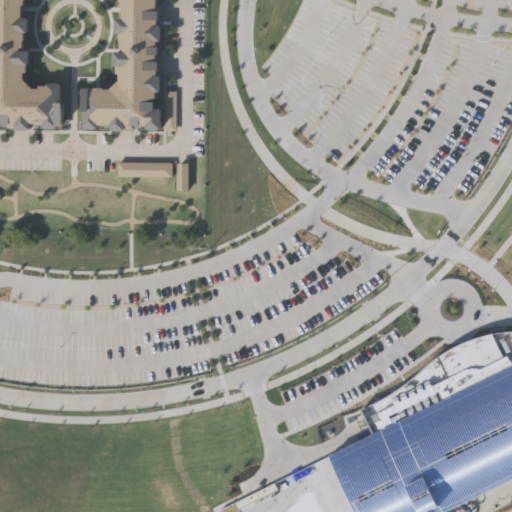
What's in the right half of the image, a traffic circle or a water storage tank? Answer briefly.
traffic circle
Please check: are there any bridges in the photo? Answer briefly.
No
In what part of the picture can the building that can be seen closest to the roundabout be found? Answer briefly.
bottom right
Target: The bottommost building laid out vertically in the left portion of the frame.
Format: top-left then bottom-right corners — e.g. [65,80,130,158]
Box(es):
[176,164,188,191]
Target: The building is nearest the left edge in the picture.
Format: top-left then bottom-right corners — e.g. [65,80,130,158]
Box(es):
[0,0,60,128]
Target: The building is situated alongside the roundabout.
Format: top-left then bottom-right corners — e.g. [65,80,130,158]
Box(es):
[330,333,512,512]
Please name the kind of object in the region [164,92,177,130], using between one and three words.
building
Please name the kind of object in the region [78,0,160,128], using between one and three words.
building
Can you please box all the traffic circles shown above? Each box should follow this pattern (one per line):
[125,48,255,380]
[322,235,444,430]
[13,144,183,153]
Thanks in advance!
[422,278,482,340]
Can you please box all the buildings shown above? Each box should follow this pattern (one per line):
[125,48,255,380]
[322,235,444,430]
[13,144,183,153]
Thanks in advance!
[78,0,160,128]
[117,163,172,177]
[0,0,60,128]
[164,92,177,130]
[330,333,512,512]
[176,164,188,191]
